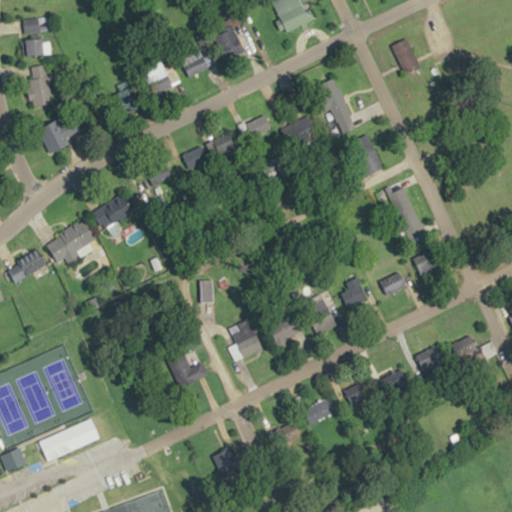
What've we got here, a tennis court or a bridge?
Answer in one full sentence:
It is a tennis court that can be seen here.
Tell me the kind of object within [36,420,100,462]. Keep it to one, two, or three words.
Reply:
building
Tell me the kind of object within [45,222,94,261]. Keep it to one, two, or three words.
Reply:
house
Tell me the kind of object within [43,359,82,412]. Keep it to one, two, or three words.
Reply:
tennis court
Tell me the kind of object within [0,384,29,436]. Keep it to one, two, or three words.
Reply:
tennis court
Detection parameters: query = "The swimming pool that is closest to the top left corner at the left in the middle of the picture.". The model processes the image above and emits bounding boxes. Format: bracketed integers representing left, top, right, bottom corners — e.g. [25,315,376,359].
[122,228,144,246]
